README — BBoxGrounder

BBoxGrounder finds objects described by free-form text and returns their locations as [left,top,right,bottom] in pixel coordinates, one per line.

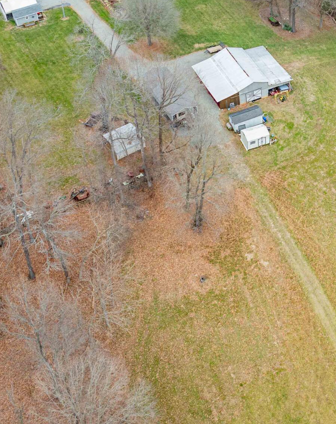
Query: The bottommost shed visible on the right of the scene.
[240,125,269,151]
